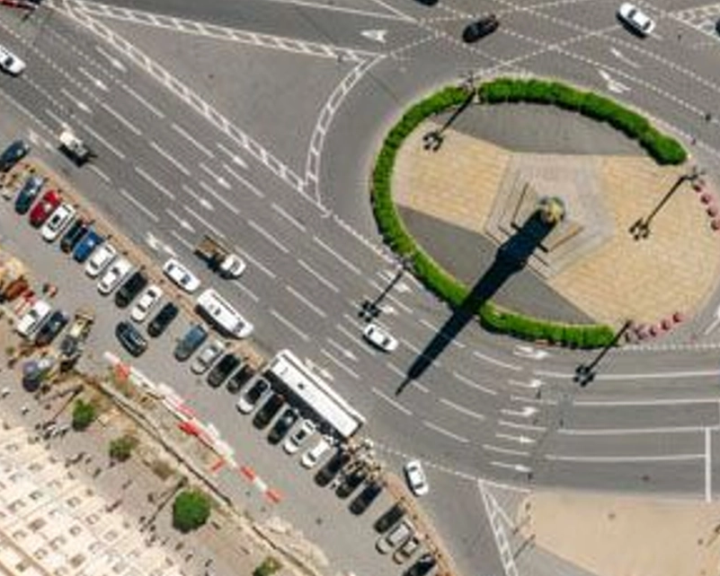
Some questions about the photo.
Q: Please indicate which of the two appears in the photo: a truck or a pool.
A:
truck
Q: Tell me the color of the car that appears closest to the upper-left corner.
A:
white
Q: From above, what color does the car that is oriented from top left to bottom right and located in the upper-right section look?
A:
white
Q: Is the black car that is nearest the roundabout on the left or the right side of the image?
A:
right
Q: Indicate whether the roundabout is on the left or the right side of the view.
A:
right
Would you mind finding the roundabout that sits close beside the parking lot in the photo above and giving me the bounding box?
[367,71,720,353]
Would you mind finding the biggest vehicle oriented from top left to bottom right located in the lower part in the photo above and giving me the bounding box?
[264,341,370,441]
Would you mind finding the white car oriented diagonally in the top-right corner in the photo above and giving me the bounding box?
[618,3,654,36]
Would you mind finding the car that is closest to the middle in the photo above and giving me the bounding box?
[362,322,400,351]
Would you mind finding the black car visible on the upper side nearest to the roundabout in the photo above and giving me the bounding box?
[462,16,501,42]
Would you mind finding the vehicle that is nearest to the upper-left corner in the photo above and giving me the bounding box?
[0,44,28,75]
